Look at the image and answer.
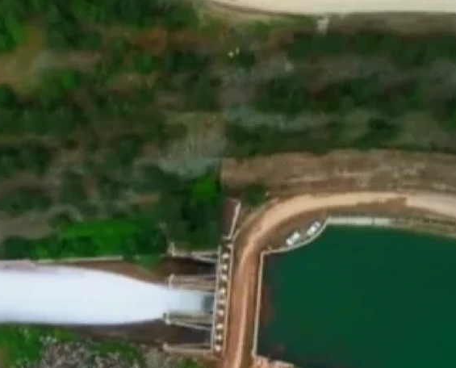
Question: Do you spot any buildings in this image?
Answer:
No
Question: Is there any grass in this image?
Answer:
Yes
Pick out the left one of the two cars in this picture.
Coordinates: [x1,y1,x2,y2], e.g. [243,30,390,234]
[284,231,301,246]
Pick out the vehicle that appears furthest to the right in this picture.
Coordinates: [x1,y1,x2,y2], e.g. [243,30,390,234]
[305,221,321,237]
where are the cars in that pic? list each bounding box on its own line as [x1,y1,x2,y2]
[284,231,301,246]
[305,221,321,237]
